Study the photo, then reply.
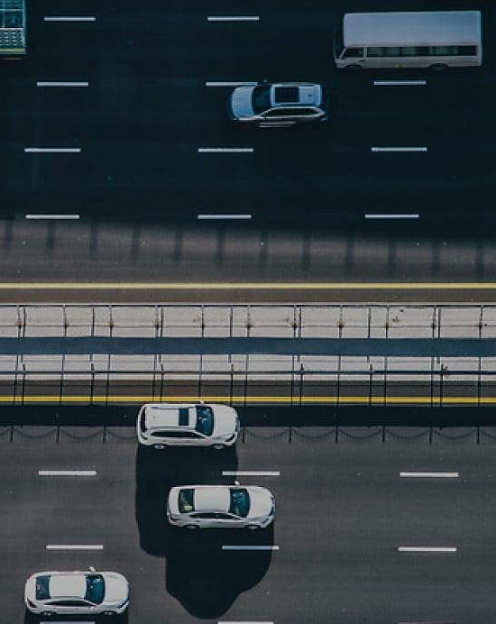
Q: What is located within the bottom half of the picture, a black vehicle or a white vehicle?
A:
white vehicle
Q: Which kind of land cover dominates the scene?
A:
paved ground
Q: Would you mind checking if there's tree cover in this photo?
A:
No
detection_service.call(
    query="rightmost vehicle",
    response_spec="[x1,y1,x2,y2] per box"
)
[335,11,484,73]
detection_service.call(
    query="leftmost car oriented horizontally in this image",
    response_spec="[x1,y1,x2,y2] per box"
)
[24,566,131,618]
